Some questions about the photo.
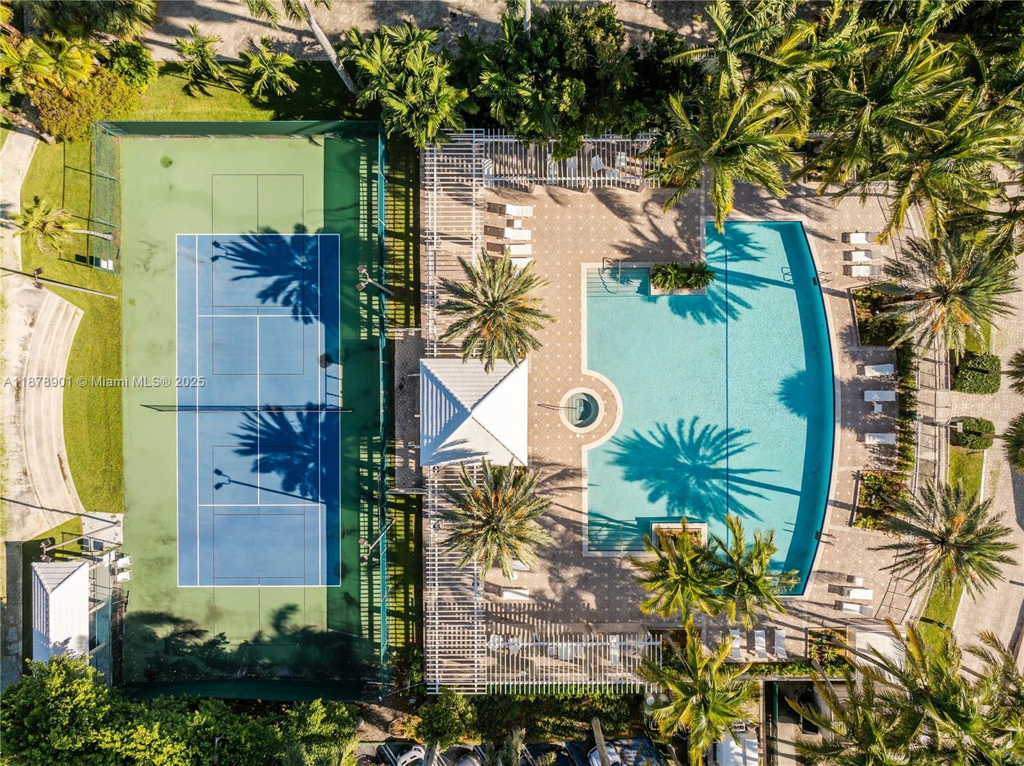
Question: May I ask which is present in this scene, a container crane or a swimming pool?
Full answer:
The one in the frame is a swimming pool.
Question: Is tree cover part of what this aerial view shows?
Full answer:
Yes, some tree cover is visible.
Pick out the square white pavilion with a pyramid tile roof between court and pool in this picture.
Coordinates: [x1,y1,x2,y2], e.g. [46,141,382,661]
[419,357,529,467]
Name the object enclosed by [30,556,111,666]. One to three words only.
shed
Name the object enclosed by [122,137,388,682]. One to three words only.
tennis court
